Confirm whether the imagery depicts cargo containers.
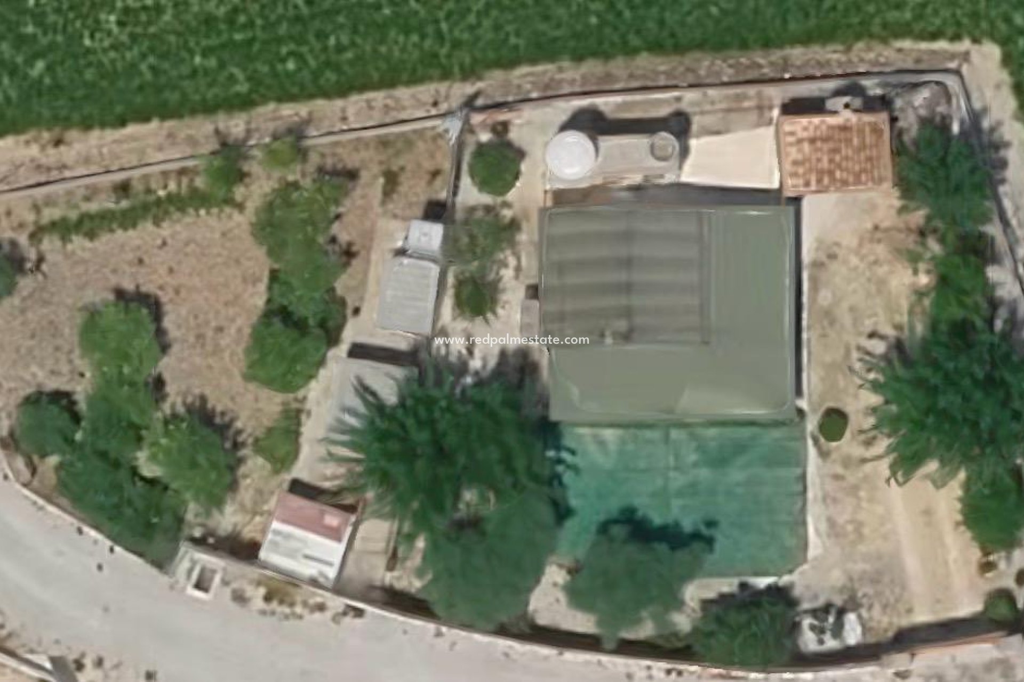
No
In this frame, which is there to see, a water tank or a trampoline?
water tank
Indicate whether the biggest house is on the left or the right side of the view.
right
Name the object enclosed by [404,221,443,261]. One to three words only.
shed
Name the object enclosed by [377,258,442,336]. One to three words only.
shed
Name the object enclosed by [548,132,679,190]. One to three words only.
water tank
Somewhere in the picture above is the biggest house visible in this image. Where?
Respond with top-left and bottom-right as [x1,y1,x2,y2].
[540,207,796,423]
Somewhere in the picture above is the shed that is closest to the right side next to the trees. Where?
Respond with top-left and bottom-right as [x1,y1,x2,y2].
[777,111,893,197]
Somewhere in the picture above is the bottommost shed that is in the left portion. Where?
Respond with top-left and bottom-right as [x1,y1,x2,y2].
[259,490,359,589]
